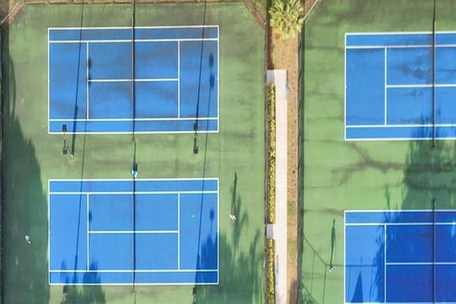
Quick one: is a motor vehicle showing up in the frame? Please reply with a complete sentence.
No, I find no motor vehicle anywhere in the image.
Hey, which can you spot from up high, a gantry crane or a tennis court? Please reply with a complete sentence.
Visible in the photo is a tennis court.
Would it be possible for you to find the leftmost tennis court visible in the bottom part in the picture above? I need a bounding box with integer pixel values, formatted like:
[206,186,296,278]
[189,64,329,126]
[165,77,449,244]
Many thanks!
[1,155,266,304]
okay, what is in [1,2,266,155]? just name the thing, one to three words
tennis court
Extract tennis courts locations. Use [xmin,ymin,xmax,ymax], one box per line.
[302,174,456,304]
[1,155,266,304]
[1,2,266,155]
[302,0,456,174]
